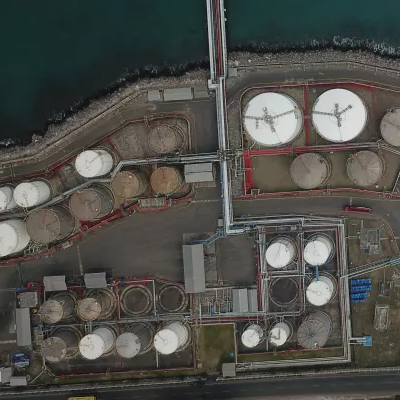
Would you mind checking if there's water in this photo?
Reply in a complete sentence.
Yes, there is water in the image.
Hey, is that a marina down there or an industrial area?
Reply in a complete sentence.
This image shows an industrial area.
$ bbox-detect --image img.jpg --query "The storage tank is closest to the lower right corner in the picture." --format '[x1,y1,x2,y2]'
[298,307,336,350]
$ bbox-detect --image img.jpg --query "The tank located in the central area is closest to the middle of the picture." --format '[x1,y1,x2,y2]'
[149,163,189,196]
